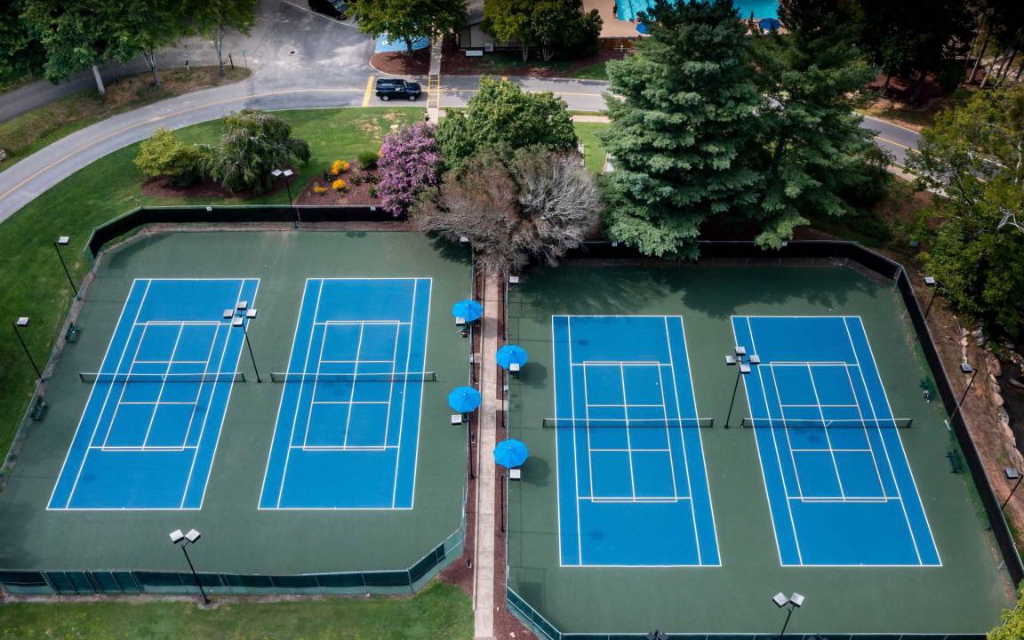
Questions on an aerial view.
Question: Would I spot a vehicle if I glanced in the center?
No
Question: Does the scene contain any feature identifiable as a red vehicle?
No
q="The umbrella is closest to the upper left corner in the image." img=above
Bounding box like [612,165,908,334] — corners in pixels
[452,299,480,328]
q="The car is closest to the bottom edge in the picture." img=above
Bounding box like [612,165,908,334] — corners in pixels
[374,76,422,100]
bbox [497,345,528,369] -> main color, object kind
blue umbrella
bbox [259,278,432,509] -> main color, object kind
blue tennis court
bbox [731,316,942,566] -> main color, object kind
blue tennis court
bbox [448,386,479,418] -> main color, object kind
blue umbrella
